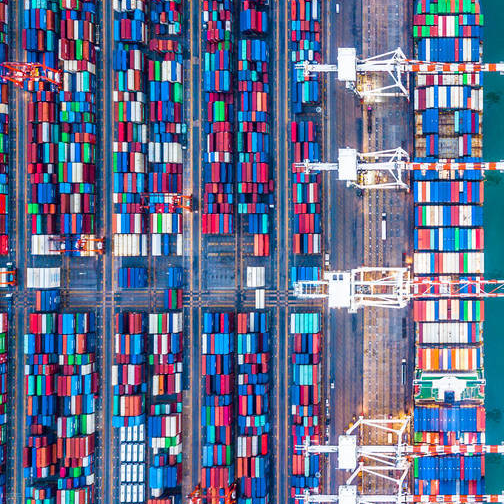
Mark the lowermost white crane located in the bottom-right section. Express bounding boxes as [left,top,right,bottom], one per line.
[295,456,504,504]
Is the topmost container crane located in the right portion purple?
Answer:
No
